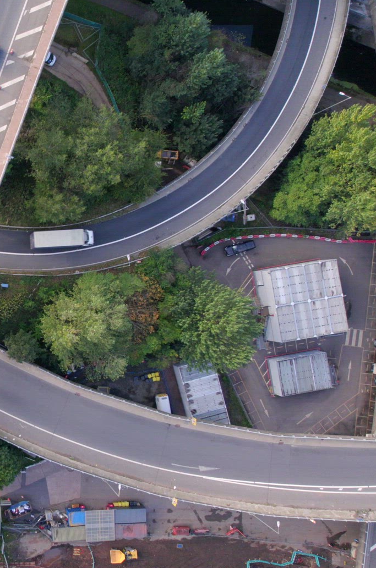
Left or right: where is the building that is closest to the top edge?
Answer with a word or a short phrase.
right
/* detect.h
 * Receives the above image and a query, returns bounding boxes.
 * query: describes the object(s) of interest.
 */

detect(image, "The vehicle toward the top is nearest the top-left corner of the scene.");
[45,53,61,68]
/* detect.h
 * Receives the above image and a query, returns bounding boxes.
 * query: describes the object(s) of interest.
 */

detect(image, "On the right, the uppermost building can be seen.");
[253,258,349,345]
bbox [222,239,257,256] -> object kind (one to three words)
vehicle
